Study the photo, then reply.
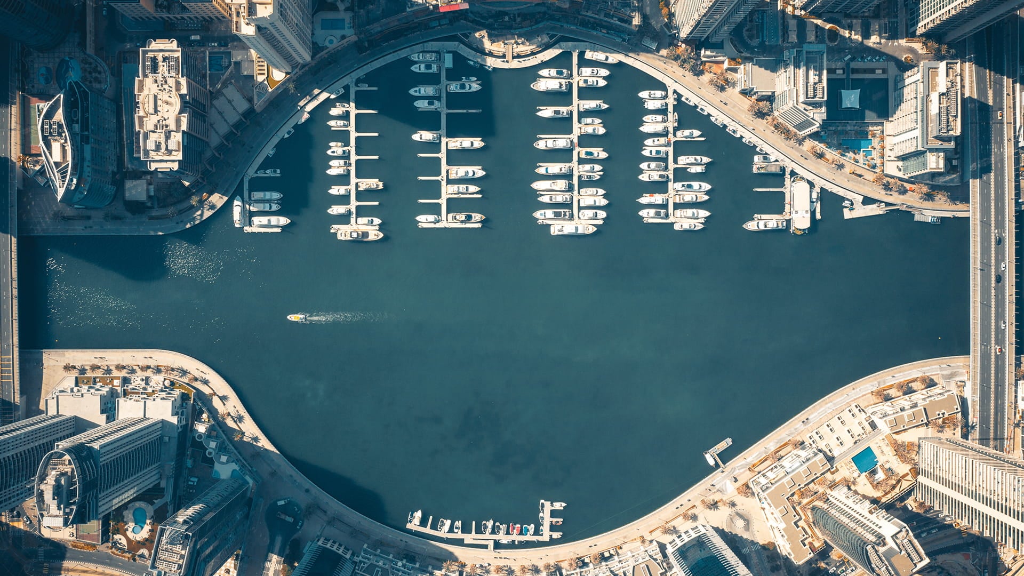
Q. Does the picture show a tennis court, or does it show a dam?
tennis court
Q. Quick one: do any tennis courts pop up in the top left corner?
Yes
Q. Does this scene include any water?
Yes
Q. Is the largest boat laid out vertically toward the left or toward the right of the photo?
right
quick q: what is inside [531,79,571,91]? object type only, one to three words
boat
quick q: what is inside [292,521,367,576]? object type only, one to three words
building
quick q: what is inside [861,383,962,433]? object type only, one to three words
building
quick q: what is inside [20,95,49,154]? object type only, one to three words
tennis court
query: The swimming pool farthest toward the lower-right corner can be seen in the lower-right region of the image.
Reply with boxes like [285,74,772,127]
[850,444,880,476]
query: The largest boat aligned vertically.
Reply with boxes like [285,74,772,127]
[789,177,810,235]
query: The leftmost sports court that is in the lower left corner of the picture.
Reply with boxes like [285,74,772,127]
[75,518,104,544]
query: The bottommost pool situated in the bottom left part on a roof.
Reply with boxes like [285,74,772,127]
[132,507,147,534]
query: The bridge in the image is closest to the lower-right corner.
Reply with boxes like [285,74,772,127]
[968,19,1018,576]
